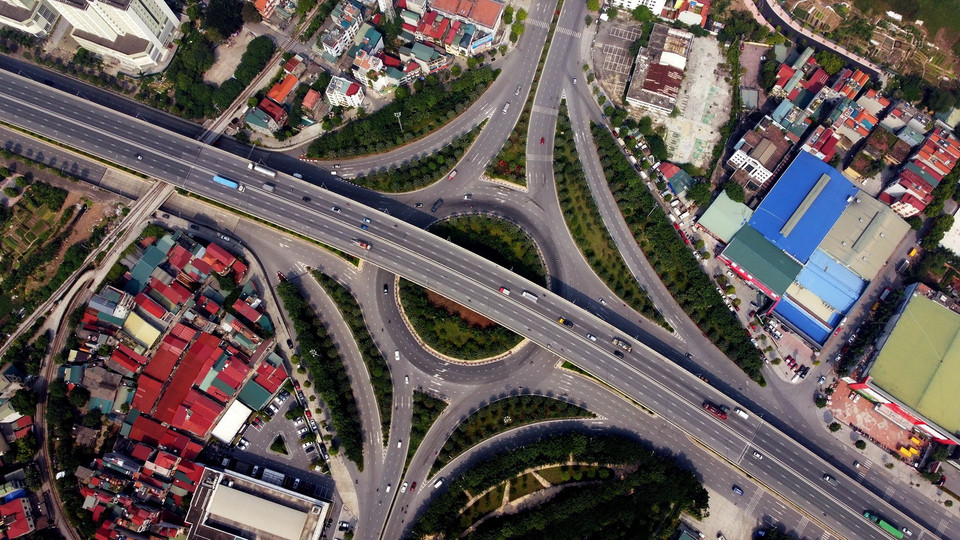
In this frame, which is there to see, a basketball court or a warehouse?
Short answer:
warehouse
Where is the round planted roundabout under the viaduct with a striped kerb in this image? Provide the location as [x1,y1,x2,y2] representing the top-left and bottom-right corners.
[377,198,567,384]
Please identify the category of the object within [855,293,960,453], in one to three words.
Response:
building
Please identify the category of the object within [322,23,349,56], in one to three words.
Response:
house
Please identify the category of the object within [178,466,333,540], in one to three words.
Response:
building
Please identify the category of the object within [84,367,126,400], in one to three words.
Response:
house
